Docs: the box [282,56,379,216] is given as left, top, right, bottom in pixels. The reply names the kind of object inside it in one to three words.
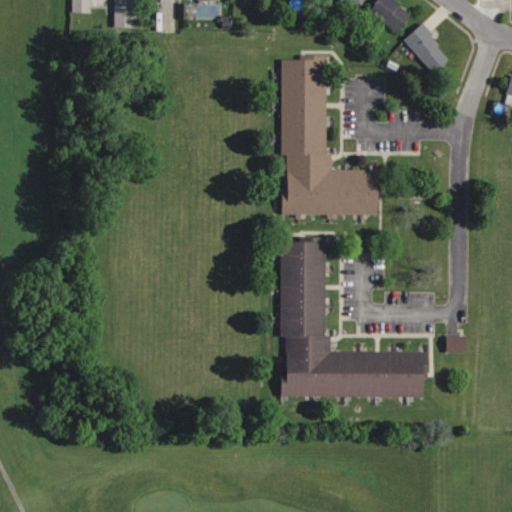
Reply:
building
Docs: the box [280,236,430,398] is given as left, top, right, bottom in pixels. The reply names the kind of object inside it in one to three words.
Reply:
building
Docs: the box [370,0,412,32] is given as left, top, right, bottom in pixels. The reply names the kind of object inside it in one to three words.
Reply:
house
